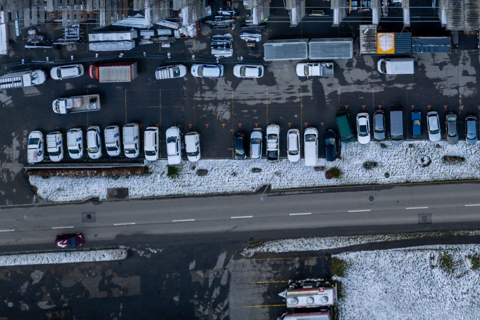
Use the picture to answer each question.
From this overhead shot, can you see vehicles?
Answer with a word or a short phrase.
Yes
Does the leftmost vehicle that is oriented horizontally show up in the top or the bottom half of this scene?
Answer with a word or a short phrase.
top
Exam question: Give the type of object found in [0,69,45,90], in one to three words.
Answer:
vehicle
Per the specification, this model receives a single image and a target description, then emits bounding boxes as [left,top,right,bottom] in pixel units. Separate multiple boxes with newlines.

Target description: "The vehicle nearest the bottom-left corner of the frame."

[54,232,85,249]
